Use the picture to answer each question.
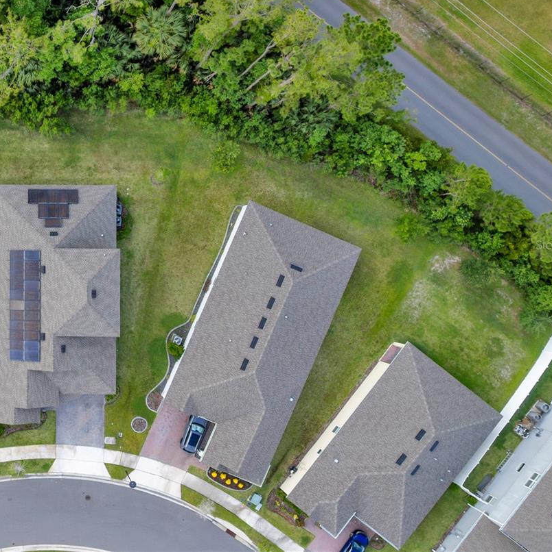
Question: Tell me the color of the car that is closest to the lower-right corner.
blue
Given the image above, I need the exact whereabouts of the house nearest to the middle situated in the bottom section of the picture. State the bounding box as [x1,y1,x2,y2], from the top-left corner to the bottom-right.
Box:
[163,200,361,488]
